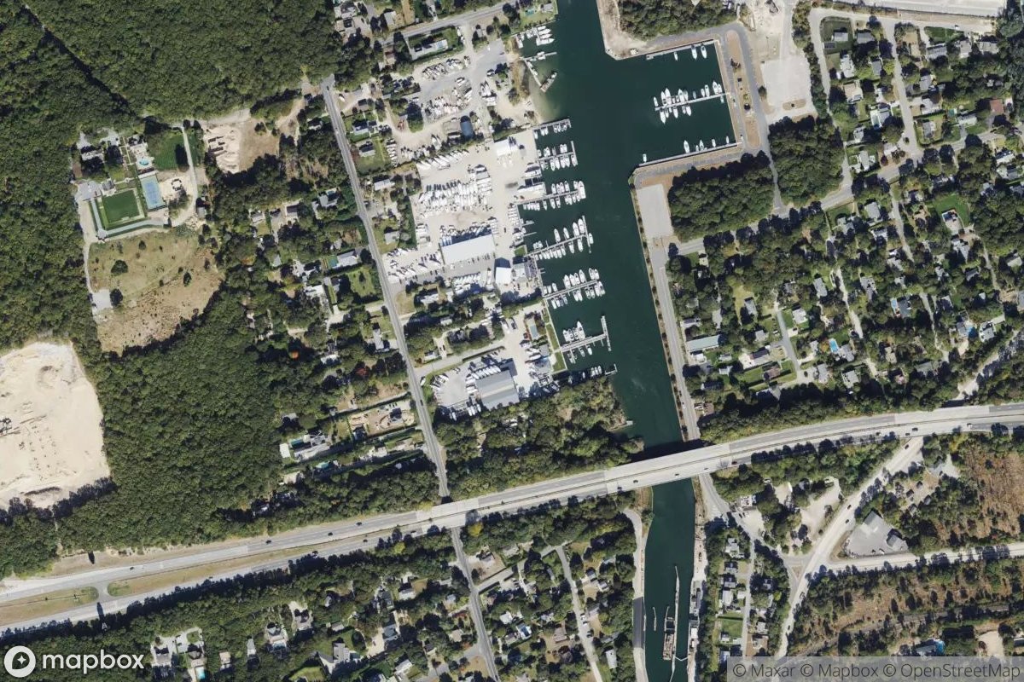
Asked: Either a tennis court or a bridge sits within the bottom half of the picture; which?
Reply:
bridge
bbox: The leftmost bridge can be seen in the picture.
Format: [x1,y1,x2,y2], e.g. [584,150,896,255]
[417,501,466,536]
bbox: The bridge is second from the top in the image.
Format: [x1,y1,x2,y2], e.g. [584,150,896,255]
[605,441,729,493]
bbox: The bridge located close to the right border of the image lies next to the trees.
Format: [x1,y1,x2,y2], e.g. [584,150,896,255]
[896,404,990,437]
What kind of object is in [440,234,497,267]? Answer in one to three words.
shed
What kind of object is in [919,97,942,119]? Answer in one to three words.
house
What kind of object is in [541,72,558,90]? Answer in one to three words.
ship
